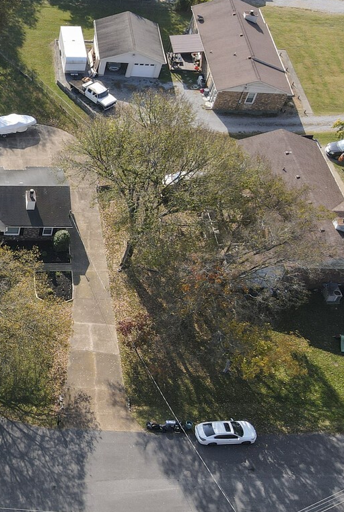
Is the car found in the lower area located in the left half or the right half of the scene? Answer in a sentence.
The car found in the lower area sits on the right side.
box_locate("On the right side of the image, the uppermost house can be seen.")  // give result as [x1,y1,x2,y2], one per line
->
[189,0,295,112]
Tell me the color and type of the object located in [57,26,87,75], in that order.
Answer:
white trailer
